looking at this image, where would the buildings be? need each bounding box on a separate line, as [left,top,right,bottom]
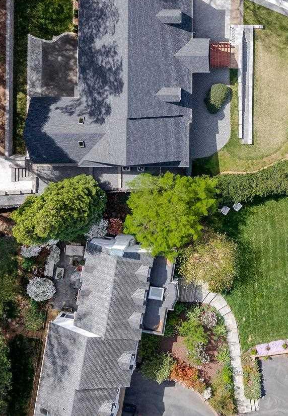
[23,0,209,169]
[32,232,181,416]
